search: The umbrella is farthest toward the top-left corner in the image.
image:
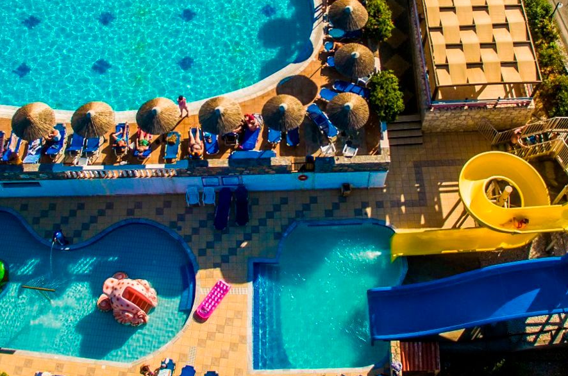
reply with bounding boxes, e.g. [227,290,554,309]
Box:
[14,103,55,143]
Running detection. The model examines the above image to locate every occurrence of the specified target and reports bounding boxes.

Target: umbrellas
[330,2,367,42]
[264,96,303,136]
[198,98,241,138]
[75,104,116,142]
[334,45,374,83]
[327,95,368,136]
[14,103,55,143]
[135,97,179,139]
